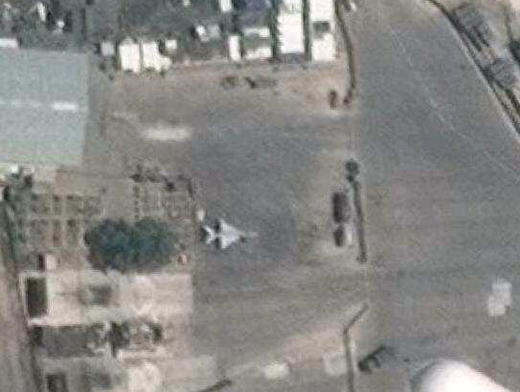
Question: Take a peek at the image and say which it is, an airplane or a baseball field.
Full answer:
The one in the frame is an airplane.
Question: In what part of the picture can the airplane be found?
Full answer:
The airplane is in the center part of the image.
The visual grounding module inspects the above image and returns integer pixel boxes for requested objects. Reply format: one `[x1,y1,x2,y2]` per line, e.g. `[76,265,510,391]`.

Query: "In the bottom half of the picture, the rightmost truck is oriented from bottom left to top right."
[360,346,387,370]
